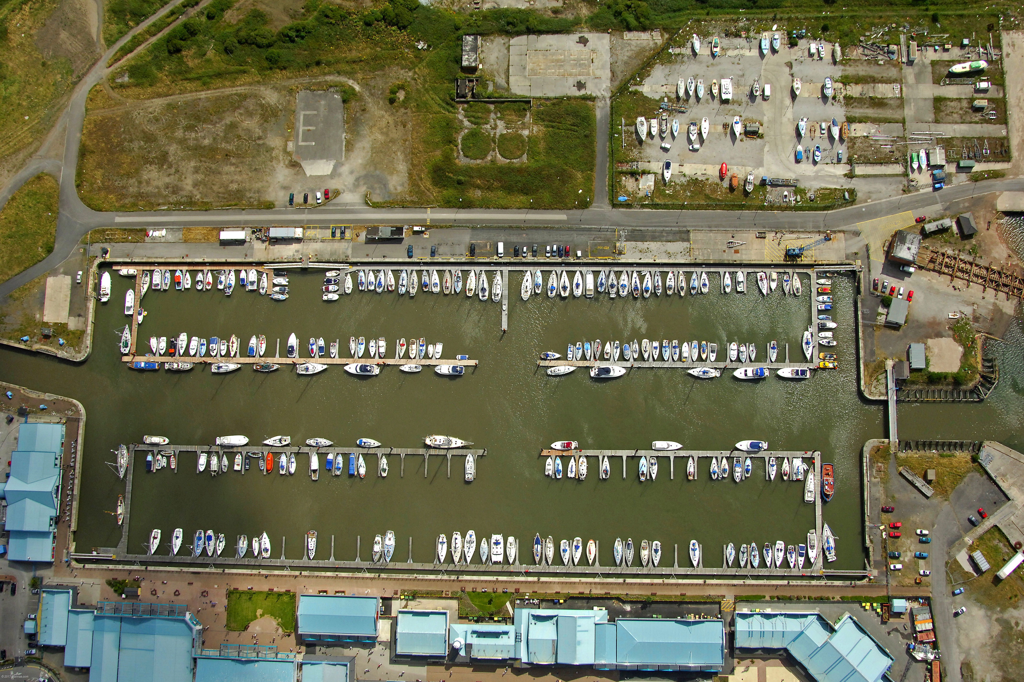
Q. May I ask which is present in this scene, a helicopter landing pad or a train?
helicopter landing pad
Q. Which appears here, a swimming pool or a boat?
boat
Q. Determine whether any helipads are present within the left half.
Yes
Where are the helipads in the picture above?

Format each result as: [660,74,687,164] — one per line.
[293,89,345,160]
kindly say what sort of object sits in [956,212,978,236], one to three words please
shed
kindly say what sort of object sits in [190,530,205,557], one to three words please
boat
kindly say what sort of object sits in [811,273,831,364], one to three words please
pier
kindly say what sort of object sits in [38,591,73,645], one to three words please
building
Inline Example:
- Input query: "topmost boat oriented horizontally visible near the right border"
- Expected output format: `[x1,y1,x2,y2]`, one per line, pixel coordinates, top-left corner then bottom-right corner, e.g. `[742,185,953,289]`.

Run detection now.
[950,61,988,73]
